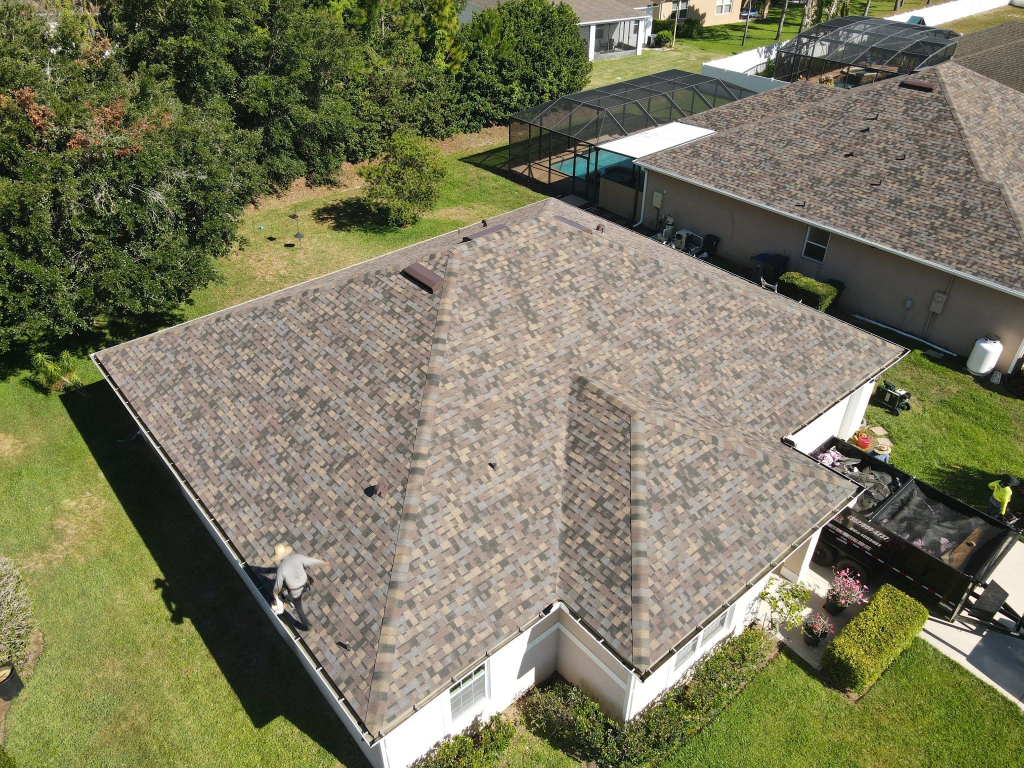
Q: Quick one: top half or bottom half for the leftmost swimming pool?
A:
top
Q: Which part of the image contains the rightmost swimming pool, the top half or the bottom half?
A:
top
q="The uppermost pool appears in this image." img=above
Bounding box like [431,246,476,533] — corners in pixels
[784,65,900,89]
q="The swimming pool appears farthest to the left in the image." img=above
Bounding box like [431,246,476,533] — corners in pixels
[512,142,644,219]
